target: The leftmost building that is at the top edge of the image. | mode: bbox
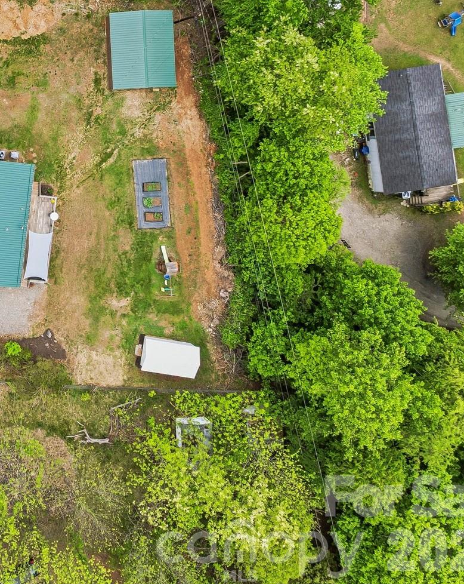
[104,10,177,90]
